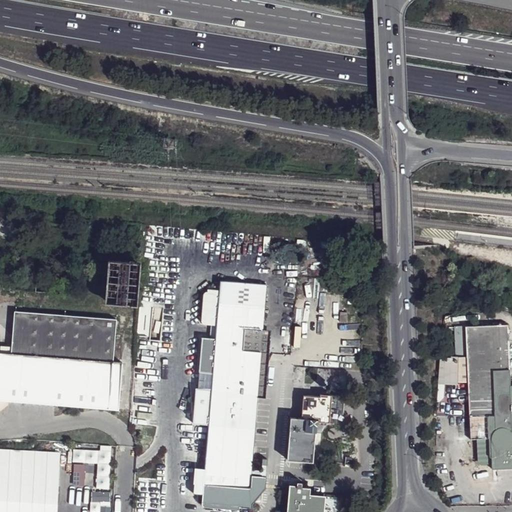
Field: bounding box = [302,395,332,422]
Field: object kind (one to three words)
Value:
house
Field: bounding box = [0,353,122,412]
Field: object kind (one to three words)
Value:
building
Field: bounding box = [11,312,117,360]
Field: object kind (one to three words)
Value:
building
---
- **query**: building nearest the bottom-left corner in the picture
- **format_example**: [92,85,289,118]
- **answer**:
[0,450,60,512]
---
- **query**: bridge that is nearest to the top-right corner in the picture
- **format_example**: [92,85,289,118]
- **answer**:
[370,0,412,108]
